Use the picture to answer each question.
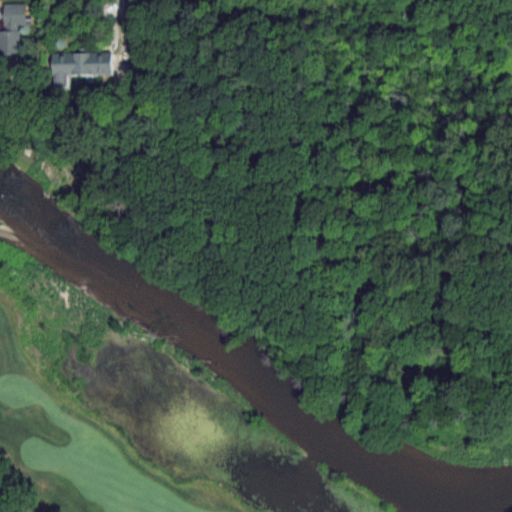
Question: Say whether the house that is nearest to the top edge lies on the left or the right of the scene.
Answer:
left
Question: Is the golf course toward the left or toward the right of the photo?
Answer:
left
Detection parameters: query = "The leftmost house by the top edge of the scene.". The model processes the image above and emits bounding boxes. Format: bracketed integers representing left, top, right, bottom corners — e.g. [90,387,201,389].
[0,4,33,56]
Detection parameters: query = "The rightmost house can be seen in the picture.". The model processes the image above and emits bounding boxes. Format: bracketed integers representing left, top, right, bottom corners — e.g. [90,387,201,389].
[52,48,112,86]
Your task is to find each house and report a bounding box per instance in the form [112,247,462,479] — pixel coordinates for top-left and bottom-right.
[0,4,33,56]
[52,48,112,86]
